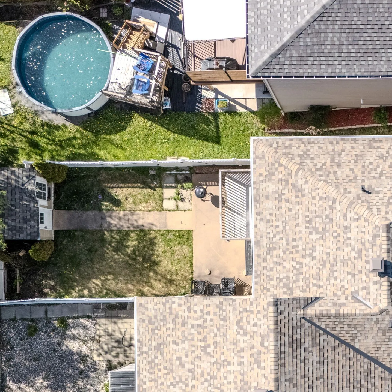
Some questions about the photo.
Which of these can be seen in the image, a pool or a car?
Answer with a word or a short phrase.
pool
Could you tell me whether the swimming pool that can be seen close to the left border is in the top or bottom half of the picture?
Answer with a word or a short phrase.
top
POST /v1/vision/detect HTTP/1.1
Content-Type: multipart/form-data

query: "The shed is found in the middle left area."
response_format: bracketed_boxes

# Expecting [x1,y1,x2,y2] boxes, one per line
[0,169,54,239]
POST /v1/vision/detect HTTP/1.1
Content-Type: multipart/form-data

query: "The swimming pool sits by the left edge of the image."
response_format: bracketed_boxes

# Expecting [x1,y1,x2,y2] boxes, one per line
[11,10,120,118]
